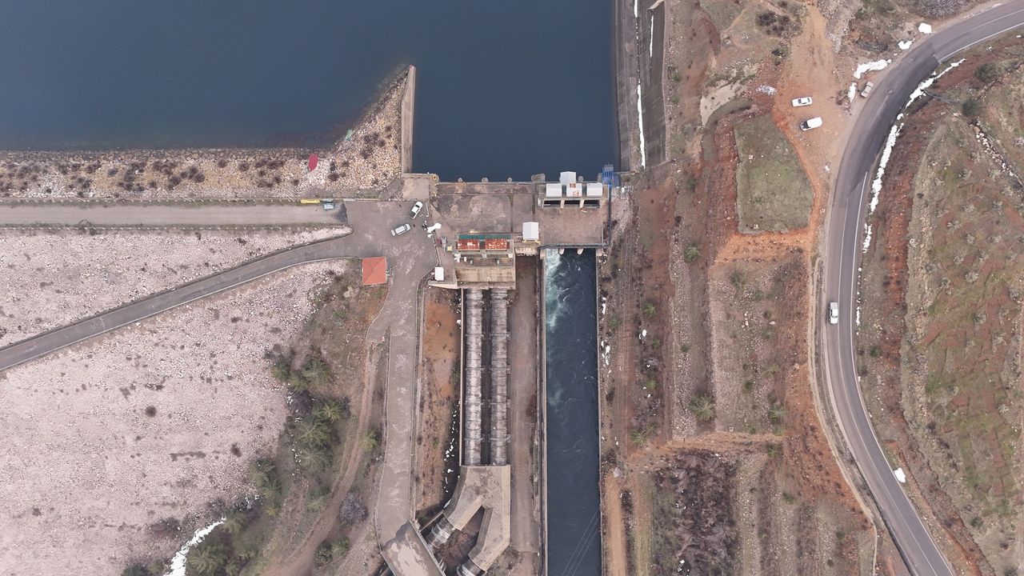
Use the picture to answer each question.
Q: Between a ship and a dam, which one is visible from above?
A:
dam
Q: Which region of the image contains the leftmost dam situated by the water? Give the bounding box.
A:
[0,59,411,576]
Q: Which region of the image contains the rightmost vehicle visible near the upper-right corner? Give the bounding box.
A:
[859,81,873,98]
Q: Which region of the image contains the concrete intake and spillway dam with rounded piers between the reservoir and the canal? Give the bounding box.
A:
[433,173,607,260]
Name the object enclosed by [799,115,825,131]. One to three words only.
vehicle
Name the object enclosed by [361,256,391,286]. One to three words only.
building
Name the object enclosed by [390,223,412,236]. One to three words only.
vehicle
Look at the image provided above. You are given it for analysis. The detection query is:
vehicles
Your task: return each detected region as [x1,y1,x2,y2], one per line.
[799,115,825,131]
[859,81,873,98]
[829,302,840,324]
[408,201,425,220]
[390,223,412,236]
[791,97,812,107]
